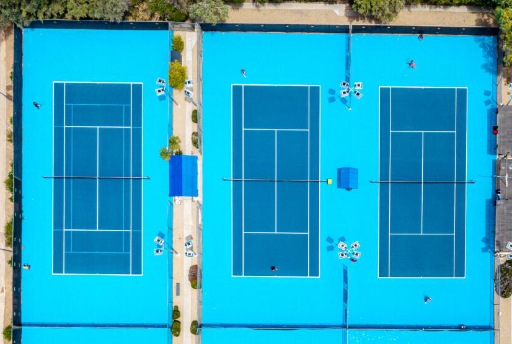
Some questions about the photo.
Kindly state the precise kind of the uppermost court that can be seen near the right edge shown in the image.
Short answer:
tennis court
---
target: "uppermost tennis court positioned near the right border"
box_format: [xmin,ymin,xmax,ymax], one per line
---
[347,34,497,329]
